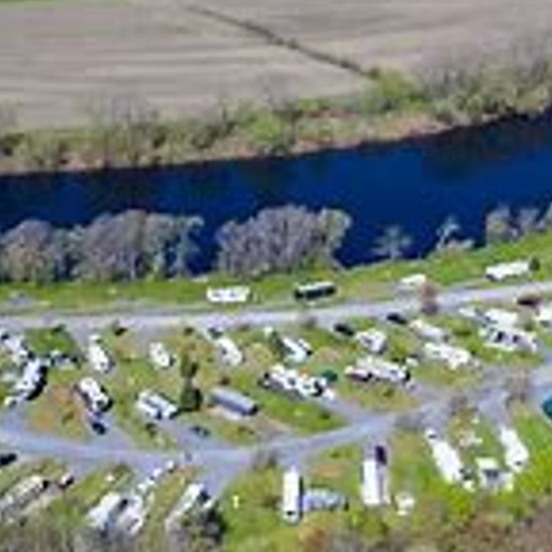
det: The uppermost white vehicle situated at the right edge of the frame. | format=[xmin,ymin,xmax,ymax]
[484,263,529,288]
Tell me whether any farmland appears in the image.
Yes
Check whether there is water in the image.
Yes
